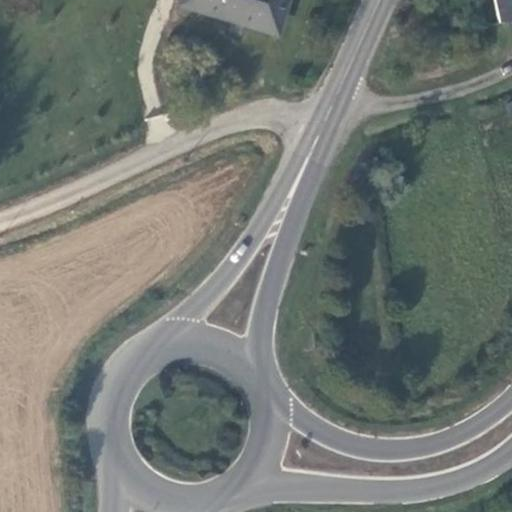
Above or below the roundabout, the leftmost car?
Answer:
above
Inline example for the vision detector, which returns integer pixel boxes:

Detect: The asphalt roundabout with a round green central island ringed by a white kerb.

[87,312,291,512]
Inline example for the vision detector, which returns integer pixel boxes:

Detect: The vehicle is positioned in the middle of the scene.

[231,240,252,260]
